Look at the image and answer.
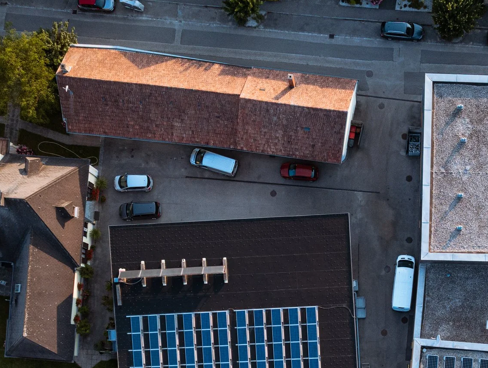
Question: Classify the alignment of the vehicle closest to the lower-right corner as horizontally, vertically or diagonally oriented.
vertically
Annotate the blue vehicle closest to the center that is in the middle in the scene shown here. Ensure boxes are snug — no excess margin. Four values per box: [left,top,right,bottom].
[189,148,240,177]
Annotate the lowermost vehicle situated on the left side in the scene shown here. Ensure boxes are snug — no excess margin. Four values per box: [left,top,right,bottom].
[119,199,162,221]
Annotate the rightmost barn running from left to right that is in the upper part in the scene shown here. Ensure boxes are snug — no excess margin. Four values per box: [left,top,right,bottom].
[55,42,357,166]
